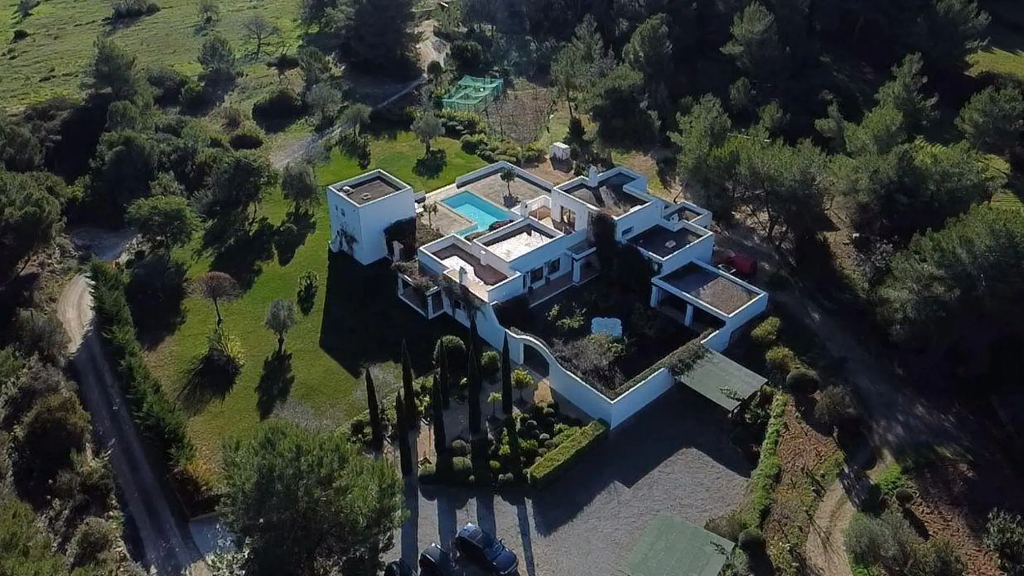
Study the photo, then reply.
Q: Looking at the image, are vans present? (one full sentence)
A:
Yes, a van appears in the view.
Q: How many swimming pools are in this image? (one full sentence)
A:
The picture shows just 1 swimming pool.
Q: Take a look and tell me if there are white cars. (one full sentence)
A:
No, this view has no white car in it.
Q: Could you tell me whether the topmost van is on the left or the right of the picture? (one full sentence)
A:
The topmost van sits on the right side.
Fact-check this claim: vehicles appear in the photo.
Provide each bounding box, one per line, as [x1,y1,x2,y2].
[450,517,524,576]
[362,553,409,576]
[408,540,472,576]
[718,245,753,280]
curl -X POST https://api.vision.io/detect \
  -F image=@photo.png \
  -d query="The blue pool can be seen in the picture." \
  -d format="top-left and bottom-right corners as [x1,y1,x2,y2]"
[438,189,510,244]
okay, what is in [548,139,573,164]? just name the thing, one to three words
shed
